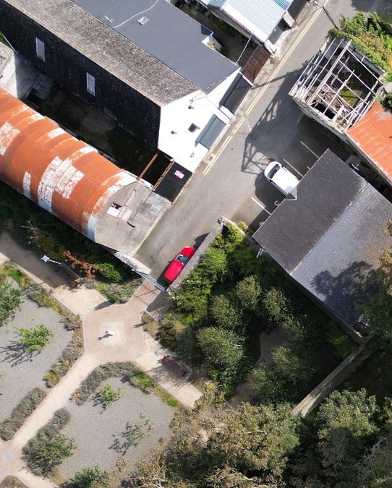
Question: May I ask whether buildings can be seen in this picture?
Yes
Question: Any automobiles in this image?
Yes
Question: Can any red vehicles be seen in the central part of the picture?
Yes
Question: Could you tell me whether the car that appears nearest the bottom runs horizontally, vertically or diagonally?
diagonally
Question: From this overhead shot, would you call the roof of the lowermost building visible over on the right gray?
Yes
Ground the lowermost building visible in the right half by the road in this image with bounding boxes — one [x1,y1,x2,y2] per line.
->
[252,147,392,330]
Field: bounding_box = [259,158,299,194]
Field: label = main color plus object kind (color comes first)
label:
white car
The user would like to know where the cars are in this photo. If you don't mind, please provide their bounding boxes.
[259,158,299,194]
[157,243,194,282]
